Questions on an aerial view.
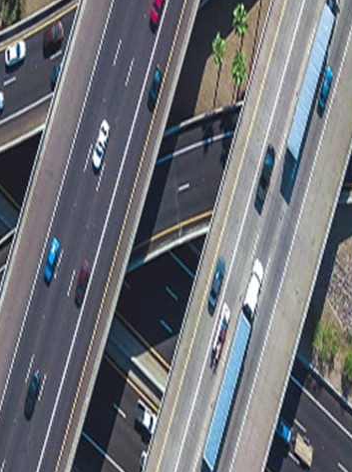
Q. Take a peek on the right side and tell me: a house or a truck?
truck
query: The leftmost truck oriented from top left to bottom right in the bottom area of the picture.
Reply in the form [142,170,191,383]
[132,395,155,431]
